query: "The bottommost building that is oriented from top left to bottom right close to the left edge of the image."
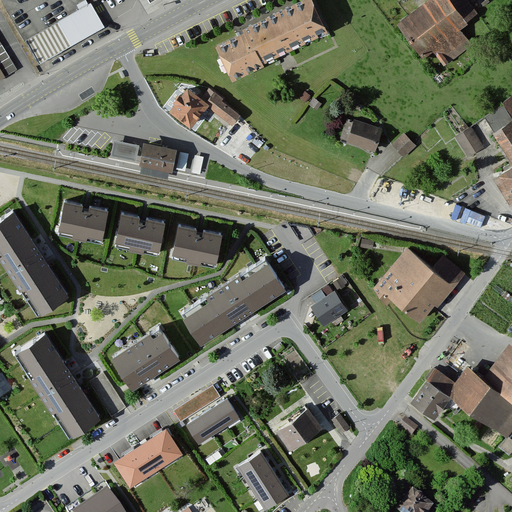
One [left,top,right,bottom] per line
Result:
[12,331,101,442]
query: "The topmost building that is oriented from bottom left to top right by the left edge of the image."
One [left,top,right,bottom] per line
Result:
[26,0,104,64]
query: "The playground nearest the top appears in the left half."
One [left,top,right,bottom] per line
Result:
[78,292,152,349]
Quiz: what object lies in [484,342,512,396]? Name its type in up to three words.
barn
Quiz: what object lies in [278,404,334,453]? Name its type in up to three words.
house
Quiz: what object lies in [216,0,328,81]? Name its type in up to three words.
building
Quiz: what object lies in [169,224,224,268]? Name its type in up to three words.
house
